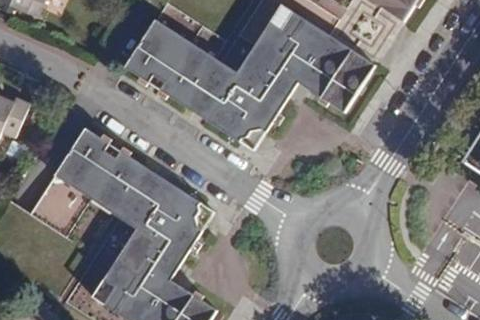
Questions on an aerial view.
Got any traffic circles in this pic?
Yes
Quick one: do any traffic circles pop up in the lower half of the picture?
Yes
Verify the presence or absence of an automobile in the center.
Yes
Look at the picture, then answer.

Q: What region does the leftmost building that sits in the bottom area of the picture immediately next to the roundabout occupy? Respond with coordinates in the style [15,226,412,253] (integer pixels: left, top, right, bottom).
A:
[30,127,218,320]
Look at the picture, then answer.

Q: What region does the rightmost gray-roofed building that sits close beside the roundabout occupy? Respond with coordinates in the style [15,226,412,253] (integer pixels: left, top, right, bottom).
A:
[126,2,378,140]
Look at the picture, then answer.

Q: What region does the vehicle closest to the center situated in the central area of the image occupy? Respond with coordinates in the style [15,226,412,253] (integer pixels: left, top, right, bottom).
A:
[226,150,252,171]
